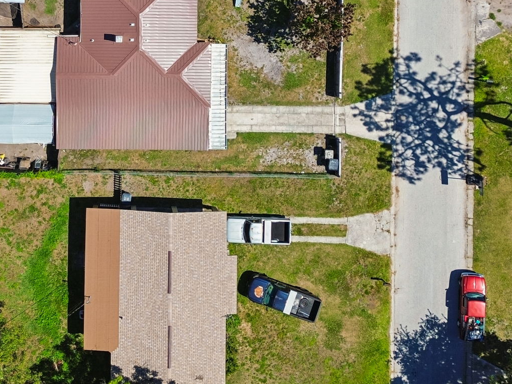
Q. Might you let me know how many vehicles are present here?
3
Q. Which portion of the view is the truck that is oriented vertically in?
bottom right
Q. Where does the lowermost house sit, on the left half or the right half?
left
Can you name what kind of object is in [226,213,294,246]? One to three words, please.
truck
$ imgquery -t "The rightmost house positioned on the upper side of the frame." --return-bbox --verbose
[56,0,218,150]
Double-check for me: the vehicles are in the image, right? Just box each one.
[226,213,294,246]
[453,267,488,343]
[241,271,320,321]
